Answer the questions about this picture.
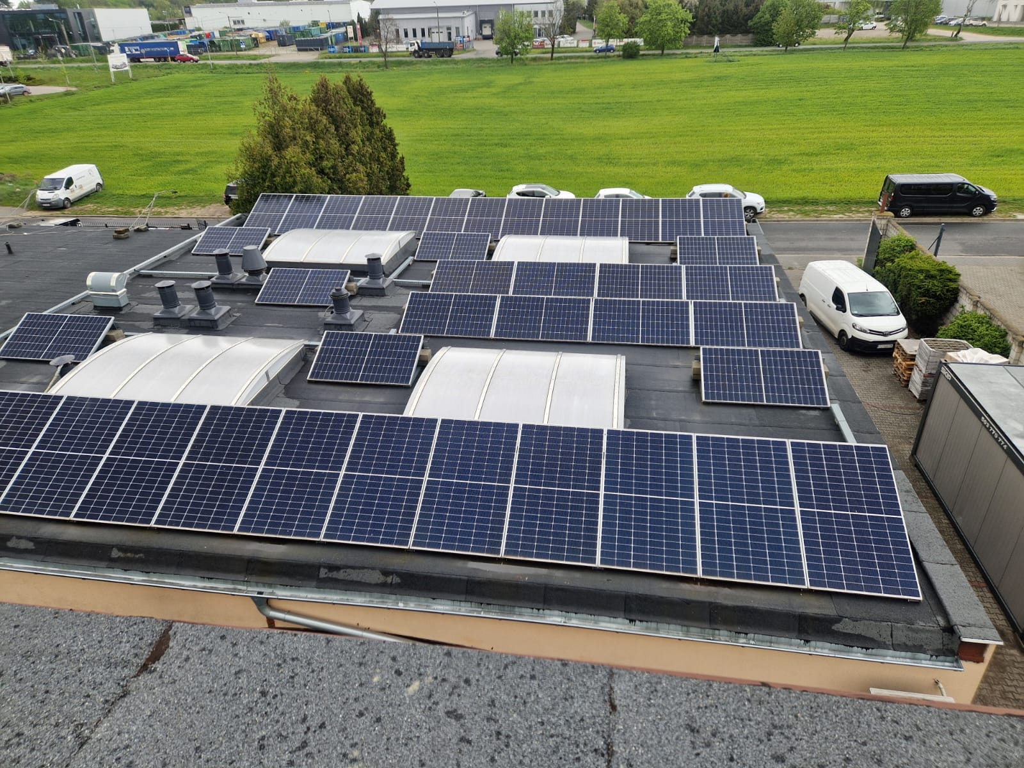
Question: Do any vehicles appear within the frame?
Yes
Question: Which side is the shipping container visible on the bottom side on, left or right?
right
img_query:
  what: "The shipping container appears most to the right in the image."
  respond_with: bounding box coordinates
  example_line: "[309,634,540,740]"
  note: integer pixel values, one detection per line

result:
[910,364,1024,644]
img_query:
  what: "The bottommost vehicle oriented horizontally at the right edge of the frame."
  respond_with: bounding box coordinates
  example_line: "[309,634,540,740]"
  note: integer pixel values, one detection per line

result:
[874,169,998,214]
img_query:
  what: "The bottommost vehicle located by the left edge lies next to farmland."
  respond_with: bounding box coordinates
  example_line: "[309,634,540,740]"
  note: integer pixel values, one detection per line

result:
[37,159,109,205]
